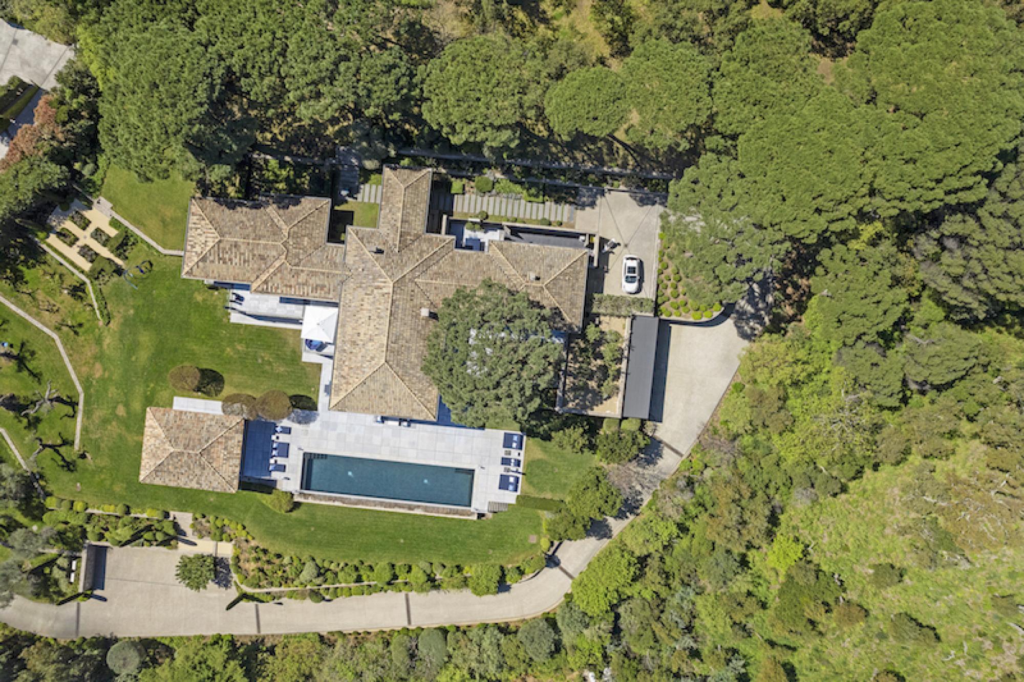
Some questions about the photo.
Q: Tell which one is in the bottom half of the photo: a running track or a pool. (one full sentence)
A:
Visible in the bottom half of the photo is a pool.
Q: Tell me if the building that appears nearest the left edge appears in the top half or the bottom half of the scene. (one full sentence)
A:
The building that appears nearest the left edge is in the bottom half of the image.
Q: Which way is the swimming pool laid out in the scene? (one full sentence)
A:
The swimming pool is laid out from left to right.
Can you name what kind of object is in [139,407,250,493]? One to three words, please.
building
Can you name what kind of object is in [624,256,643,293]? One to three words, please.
car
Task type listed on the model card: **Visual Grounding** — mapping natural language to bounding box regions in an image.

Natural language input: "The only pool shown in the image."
[295,453,478,519]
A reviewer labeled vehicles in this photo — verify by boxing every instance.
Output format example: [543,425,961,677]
[603,239,615,250]
[624,256,643,293]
